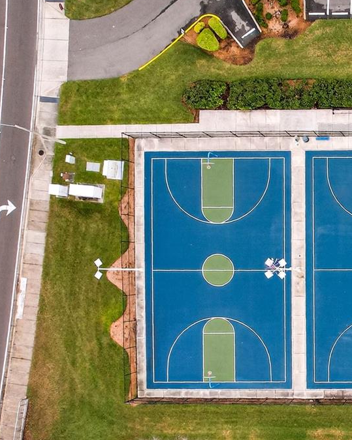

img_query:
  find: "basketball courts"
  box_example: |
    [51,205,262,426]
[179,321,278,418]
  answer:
[144,151,293,390]
[305,150,352,389]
